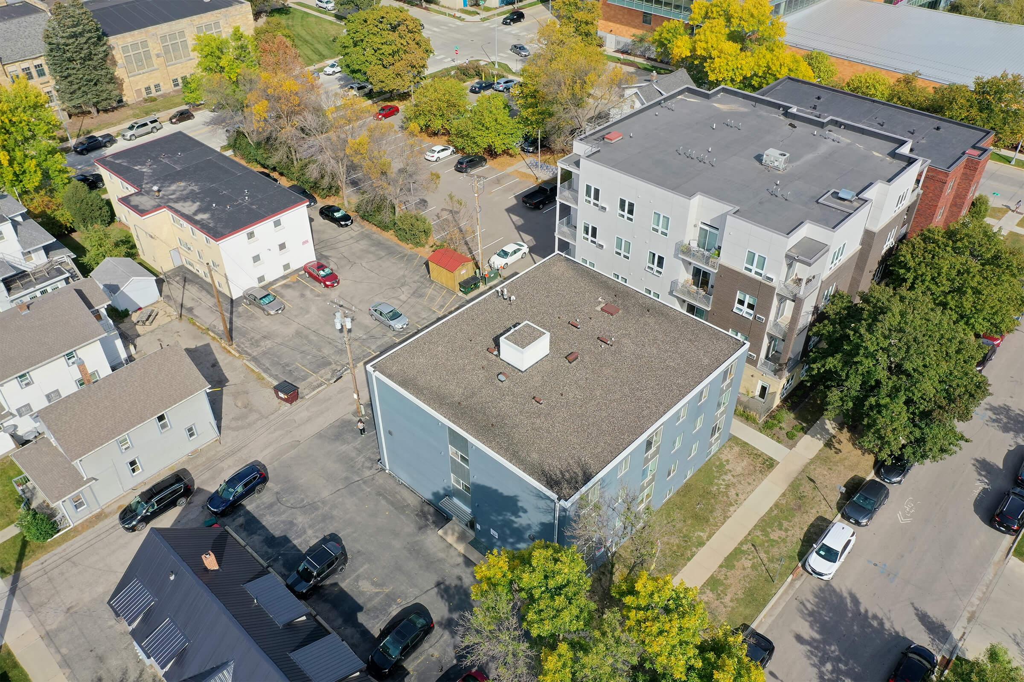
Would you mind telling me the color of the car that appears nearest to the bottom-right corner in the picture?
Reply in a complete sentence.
The color of the car that appears nearest to the bottom-right corner is black.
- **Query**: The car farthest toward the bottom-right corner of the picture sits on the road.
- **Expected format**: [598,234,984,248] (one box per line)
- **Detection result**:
[892,647,942,682]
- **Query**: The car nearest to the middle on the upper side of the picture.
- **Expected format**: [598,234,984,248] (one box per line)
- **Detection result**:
[492,239,533,266]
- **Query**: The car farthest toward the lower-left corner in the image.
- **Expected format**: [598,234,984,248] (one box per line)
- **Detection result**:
[127,460,206,524]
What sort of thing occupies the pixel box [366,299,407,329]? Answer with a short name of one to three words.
car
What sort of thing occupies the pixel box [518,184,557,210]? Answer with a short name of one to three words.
truck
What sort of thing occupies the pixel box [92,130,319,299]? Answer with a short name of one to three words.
building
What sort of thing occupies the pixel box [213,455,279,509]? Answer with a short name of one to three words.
car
